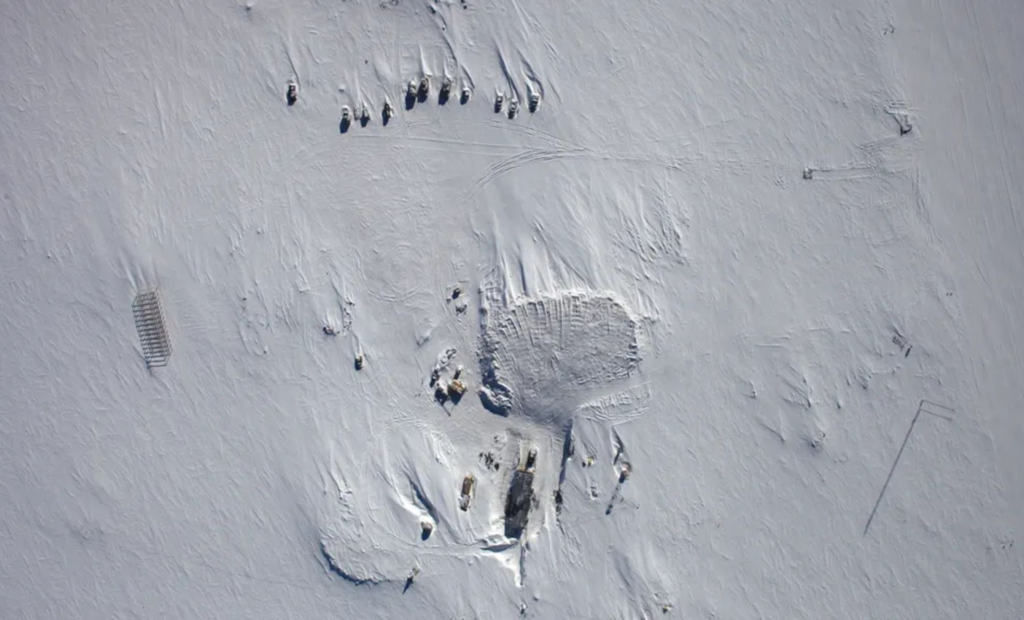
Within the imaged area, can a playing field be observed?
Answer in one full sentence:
No, I find no playing field anywhere in the image.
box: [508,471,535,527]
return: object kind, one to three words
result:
shed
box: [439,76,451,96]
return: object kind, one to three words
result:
vehicle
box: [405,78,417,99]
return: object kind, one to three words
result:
vehicle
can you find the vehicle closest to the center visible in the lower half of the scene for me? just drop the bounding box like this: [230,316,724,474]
[444,375,466,397]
